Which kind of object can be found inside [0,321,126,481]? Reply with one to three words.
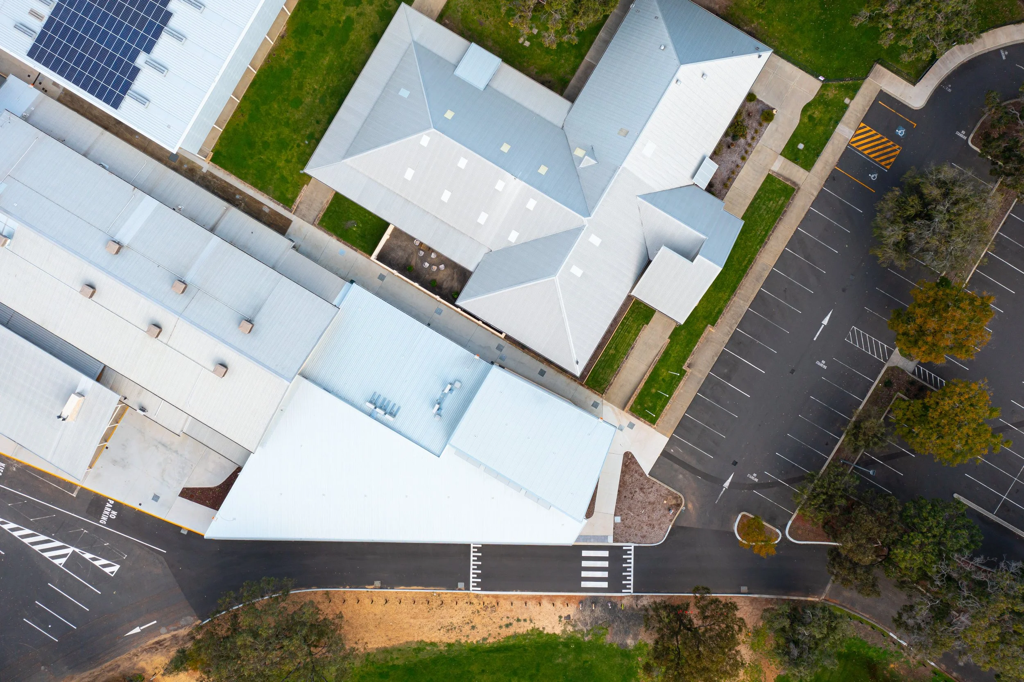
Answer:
building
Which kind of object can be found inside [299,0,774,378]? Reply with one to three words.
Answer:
building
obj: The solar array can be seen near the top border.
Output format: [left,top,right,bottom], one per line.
[27,0,179,109]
